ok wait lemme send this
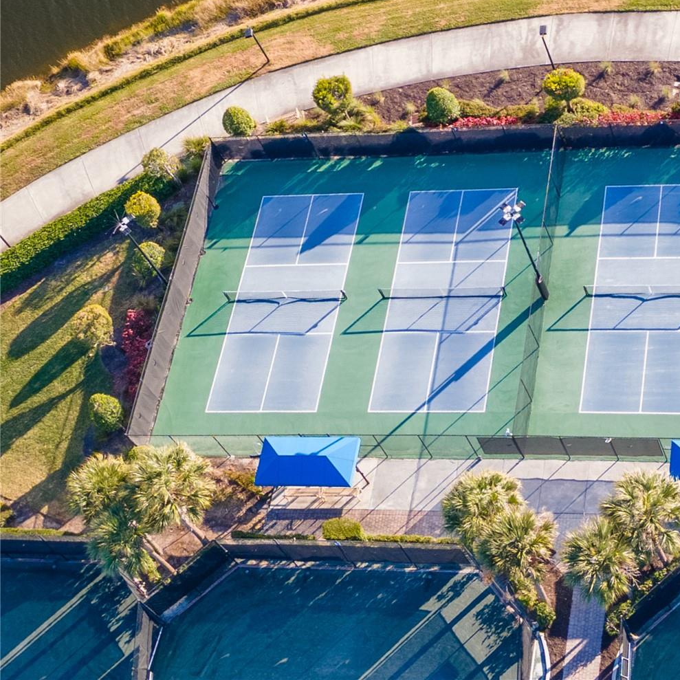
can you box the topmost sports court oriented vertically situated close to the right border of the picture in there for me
[579,185,680,414]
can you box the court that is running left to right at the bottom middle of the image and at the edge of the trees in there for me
[154,565,526,680]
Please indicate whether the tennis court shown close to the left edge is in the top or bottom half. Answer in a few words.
bottom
